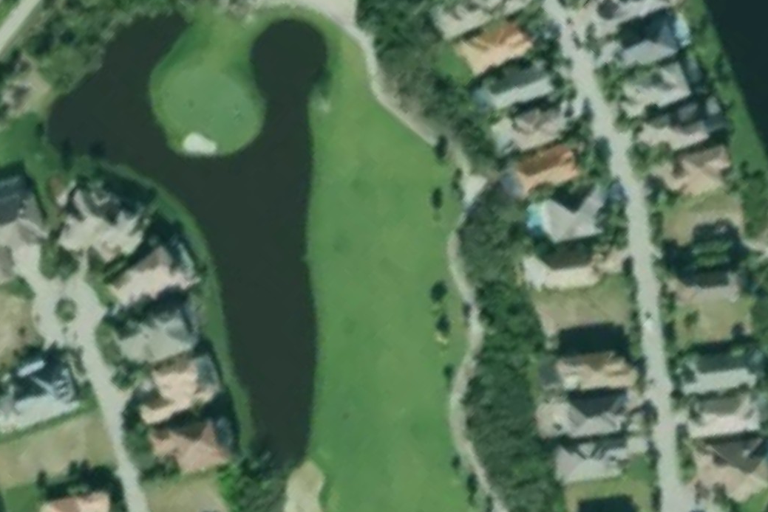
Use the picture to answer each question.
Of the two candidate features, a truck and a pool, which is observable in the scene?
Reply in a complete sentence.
Looking from above, you can make out a pool.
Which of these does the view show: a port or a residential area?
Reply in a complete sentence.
This looks like a residential area.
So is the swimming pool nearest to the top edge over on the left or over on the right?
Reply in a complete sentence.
You can find the swimming pool nearest to the top edge on the right side of the picture.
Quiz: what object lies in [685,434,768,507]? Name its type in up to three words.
house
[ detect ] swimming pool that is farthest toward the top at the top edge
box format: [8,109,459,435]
[673,13,695,47]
